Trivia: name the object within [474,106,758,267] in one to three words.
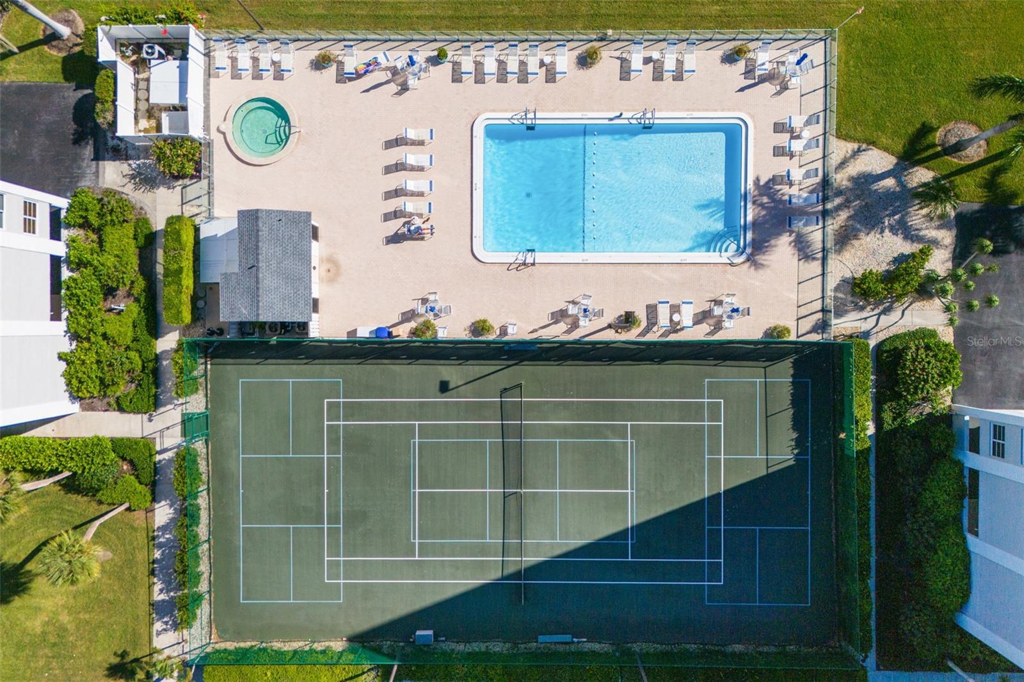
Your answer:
swimming pool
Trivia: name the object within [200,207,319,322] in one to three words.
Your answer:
building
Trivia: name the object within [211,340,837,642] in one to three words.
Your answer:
tennis court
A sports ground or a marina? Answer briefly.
sports ground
